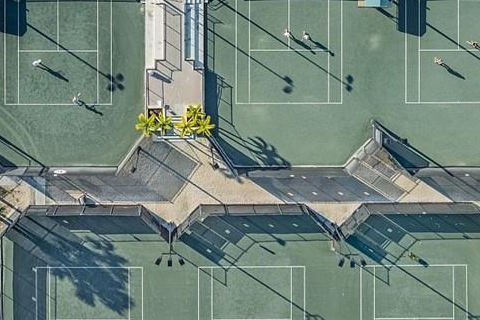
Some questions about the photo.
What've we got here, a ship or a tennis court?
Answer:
tennis court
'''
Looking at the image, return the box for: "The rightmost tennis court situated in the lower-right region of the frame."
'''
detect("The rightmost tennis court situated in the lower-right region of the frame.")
[336,213,480,320]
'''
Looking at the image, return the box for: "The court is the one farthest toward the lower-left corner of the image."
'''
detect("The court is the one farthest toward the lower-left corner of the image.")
[1,214,171,320]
